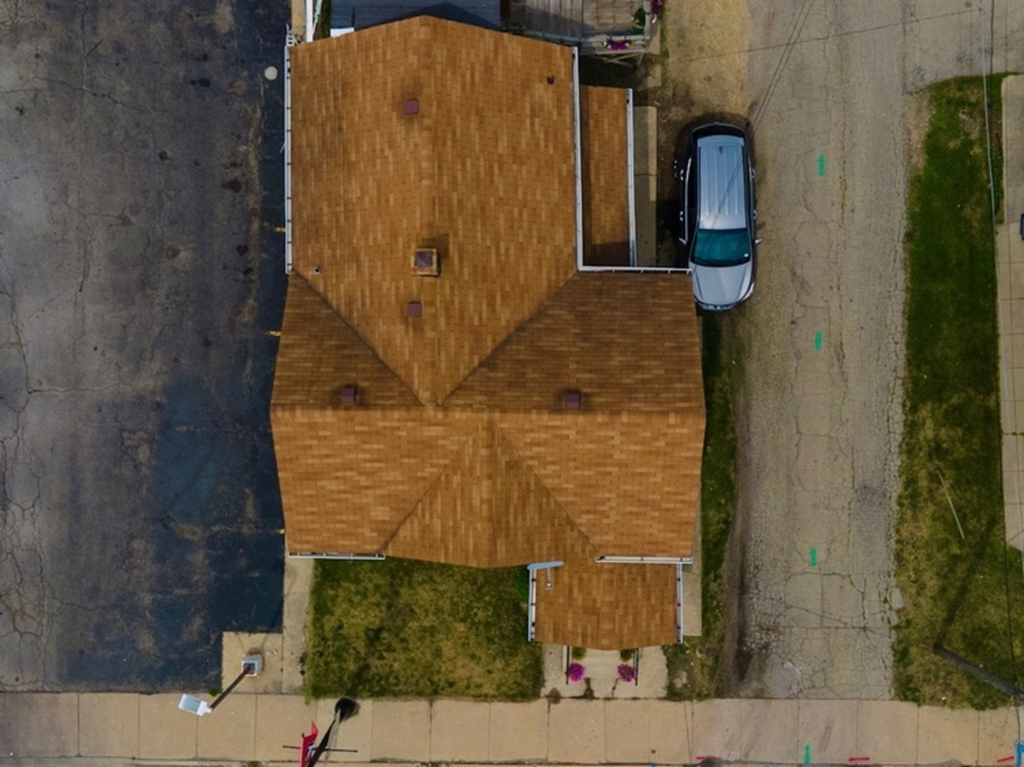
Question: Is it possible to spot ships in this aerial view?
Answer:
No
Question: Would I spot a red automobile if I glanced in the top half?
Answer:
No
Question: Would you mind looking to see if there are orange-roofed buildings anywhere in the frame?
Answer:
Yes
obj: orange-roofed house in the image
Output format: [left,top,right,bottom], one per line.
[270,16,707,650]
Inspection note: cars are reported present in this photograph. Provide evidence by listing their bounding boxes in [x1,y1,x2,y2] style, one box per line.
[675,119,762,314]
